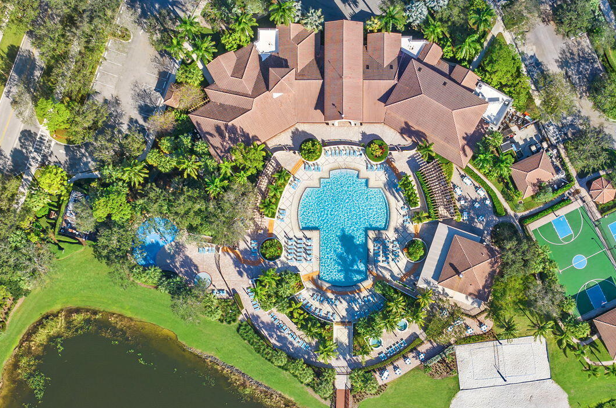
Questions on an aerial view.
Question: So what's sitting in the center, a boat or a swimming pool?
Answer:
swimming pool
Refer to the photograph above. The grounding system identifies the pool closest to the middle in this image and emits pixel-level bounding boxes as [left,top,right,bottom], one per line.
[294,162,391,287]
